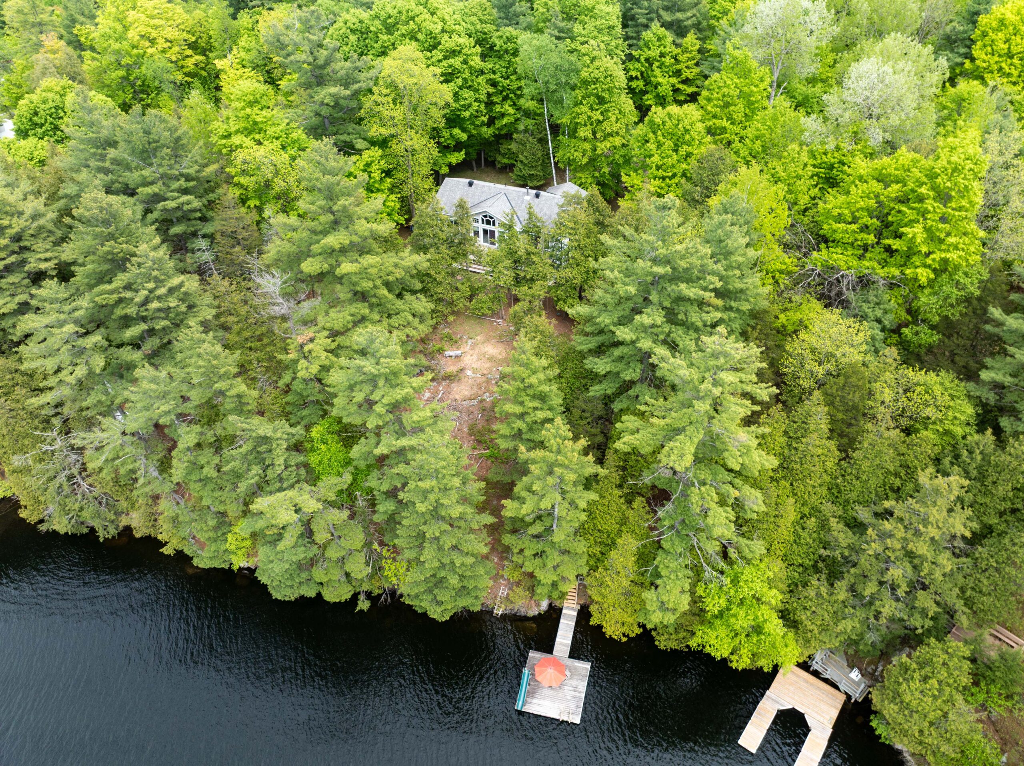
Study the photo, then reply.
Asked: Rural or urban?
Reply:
rural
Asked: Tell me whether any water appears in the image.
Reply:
Yes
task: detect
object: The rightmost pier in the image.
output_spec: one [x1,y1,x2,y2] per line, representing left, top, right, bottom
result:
[737,659,845,766]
